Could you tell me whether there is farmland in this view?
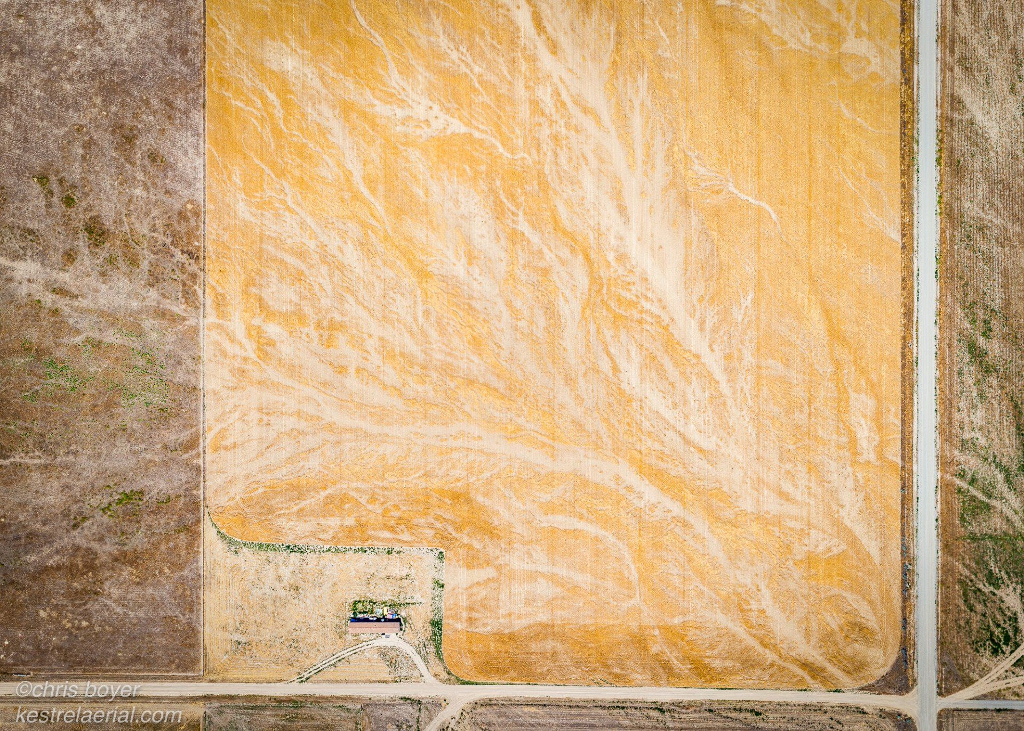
Yes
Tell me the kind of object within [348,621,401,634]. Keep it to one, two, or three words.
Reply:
shed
